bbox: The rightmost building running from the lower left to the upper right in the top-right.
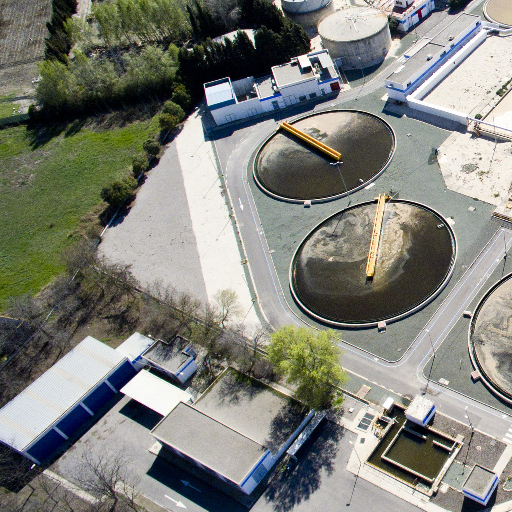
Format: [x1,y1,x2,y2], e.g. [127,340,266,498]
[385,12,478,102]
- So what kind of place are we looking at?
industrial area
